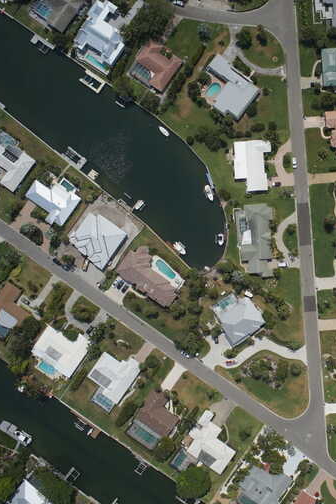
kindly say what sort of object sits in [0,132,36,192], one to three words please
house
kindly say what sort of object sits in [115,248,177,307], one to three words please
house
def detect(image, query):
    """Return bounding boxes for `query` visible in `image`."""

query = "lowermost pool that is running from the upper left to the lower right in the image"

[133,424,159,447]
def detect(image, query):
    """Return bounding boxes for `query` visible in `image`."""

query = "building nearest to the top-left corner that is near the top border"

[28,0,93,33]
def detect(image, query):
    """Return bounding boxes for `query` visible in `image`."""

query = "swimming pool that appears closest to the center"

[155,256,177,280]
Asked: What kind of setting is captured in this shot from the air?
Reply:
residential area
